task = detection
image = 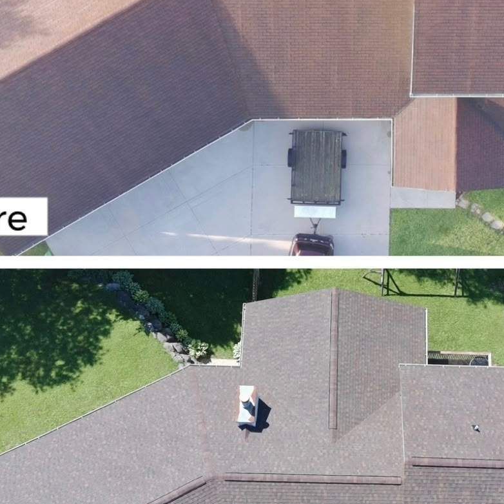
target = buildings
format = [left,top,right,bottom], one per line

[0,288,504,504]
[0,0,504,261]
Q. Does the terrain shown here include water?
No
